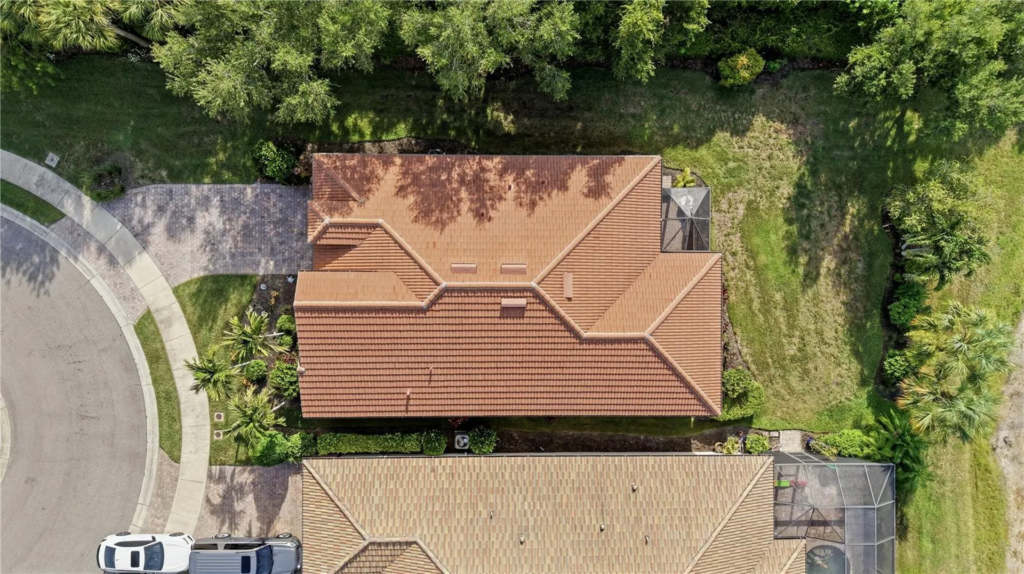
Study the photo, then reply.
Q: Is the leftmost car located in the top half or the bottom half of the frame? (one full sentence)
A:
The leftmost car is in the bottom half of the image.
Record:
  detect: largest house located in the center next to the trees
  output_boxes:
[291,152,725,419]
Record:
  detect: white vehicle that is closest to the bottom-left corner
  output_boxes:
[100,532,197,574]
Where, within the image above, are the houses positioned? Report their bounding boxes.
[291,152,725,419]
[299,452,809,574]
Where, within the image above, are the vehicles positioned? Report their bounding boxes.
[189,532,301,574]
[100,532,197,574]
